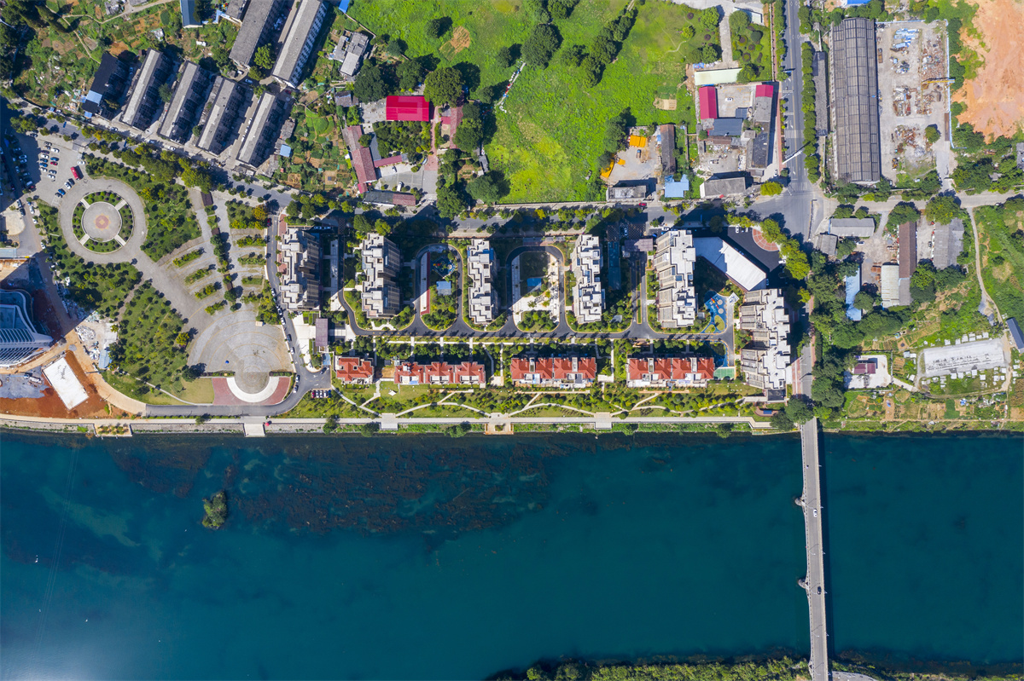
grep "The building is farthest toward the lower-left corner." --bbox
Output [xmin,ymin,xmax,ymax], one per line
[42,357,93,411]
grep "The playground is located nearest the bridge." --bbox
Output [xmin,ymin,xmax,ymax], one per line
[702,291,728,333]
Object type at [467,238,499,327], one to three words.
building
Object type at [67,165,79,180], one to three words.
vehicle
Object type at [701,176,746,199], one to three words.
house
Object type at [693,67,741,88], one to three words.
shed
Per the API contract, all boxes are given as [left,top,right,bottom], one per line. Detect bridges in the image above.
[789,419,829,681]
